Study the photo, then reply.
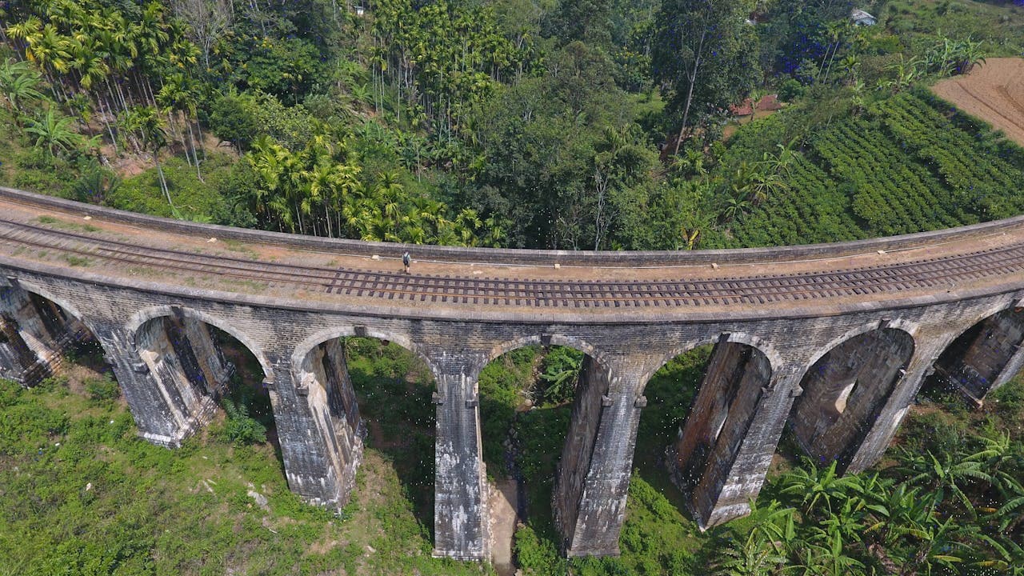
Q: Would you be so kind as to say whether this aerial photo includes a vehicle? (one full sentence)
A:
No, no vehicle is visible in the scene.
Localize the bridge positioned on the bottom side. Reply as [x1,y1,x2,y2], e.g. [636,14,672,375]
[0,187,1024,573]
